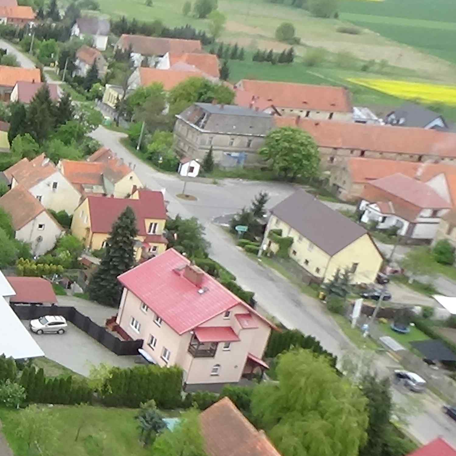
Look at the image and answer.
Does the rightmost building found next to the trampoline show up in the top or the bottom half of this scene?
bottom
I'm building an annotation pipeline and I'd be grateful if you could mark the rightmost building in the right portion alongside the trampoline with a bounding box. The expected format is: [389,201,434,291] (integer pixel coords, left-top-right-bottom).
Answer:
[403,338,456,379]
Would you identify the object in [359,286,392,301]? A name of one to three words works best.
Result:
car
